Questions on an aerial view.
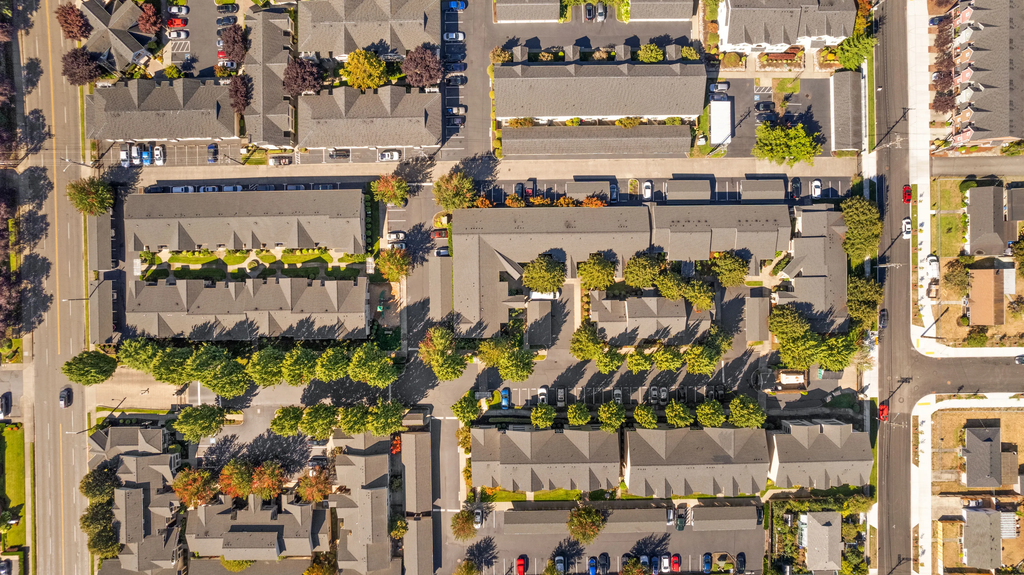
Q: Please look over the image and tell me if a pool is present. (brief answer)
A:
No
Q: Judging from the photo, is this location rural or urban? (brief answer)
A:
urban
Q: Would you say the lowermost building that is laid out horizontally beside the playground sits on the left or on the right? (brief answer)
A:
left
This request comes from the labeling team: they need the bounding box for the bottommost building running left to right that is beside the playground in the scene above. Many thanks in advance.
[123,277,370,340]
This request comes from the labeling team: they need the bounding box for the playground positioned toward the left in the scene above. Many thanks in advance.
[369,283,400,327]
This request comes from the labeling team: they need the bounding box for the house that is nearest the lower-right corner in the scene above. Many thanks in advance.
[958,508,1002,571]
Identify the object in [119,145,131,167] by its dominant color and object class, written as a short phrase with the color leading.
gray vehicle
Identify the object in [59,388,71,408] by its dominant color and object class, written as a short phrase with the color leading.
gray vehicle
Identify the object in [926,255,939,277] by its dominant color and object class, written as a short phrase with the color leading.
white vehicle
